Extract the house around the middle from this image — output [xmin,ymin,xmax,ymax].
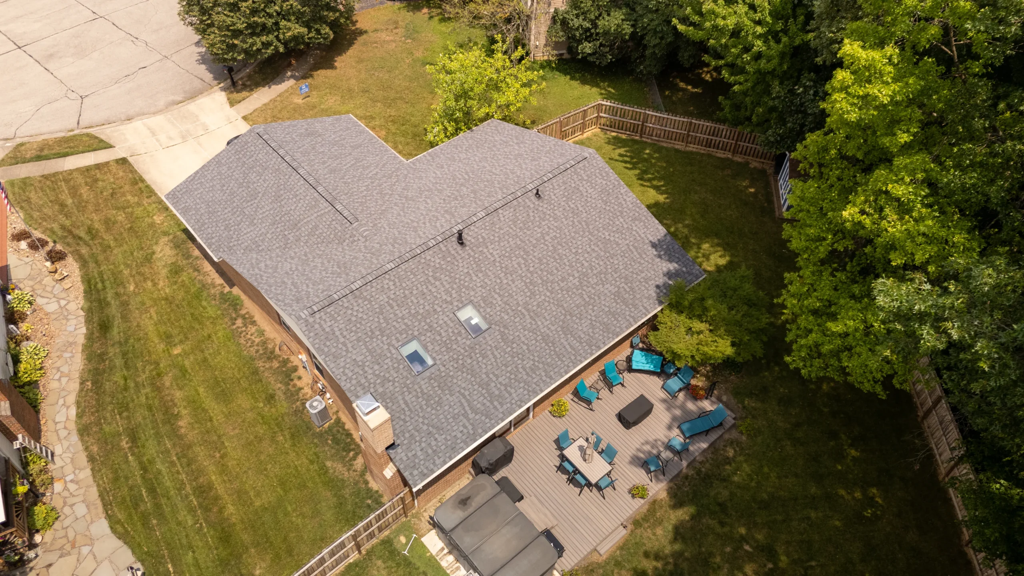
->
[163,112,705,515]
